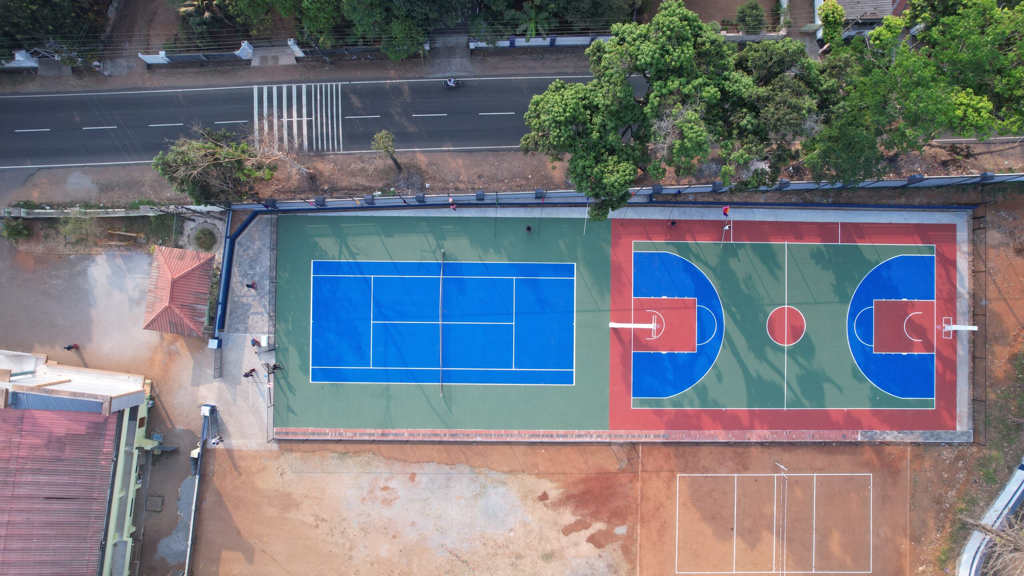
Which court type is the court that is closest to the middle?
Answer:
tennis court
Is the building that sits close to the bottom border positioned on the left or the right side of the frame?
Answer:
left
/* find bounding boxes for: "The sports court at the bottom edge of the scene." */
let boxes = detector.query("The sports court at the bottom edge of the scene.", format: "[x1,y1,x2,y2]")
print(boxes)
[637,445,910,576]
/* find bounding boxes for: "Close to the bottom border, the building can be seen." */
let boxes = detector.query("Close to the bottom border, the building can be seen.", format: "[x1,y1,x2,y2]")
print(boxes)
[0,348,178,576]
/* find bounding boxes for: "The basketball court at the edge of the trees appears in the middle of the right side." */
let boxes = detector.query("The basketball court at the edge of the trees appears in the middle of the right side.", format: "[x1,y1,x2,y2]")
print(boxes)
[609,219,957,431]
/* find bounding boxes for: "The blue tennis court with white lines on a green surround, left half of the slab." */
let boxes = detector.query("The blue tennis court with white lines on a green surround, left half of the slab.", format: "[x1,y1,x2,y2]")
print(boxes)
[275,216,611,430]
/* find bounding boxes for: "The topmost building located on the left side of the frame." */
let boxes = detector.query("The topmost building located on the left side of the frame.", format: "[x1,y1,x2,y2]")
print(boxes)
[141,245,217,338]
